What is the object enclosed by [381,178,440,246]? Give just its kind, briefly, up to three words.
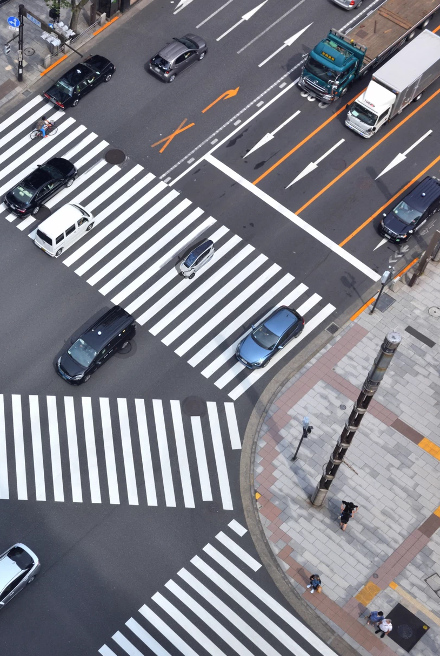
car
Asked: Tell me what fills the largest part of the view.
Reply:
paved ground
